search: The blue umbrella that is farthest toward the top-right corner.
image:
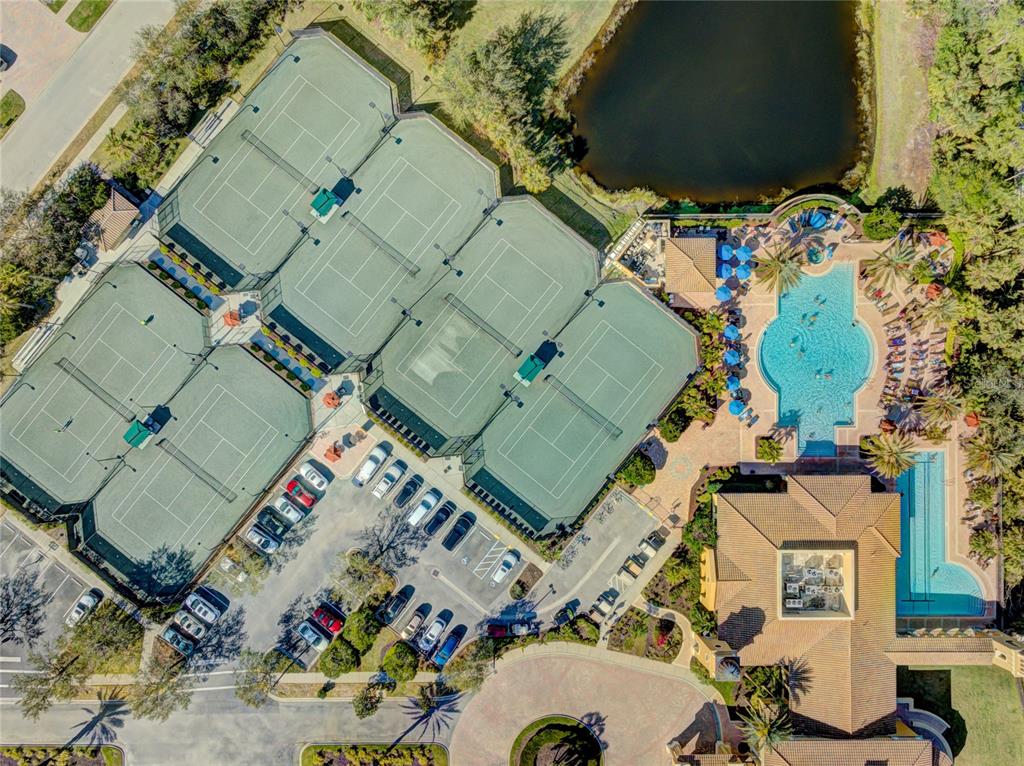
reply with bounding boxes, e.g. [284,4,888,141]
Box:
[806,210,826,229]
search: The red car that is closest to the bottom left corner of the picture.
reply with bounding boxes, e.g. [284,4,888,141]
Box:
[309,607,342,636]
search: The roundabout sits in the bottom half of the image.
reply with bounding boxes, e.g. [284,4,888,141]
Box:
[449,653,719,766]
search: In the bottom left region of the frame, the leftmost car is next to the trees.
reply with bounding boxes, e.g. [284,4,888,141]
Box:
[65,594,94,626]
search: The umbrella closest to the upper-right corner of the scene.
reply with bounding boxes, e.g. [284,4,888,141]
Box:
[927,231,945,248]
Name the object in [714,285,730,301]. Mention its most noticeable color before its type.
blue umbrella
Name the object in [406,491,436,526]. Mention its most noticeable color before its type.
white car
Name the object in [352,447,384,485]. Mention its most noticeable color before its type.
white car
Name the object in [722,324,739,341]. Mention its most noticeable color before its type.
blue umbrella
